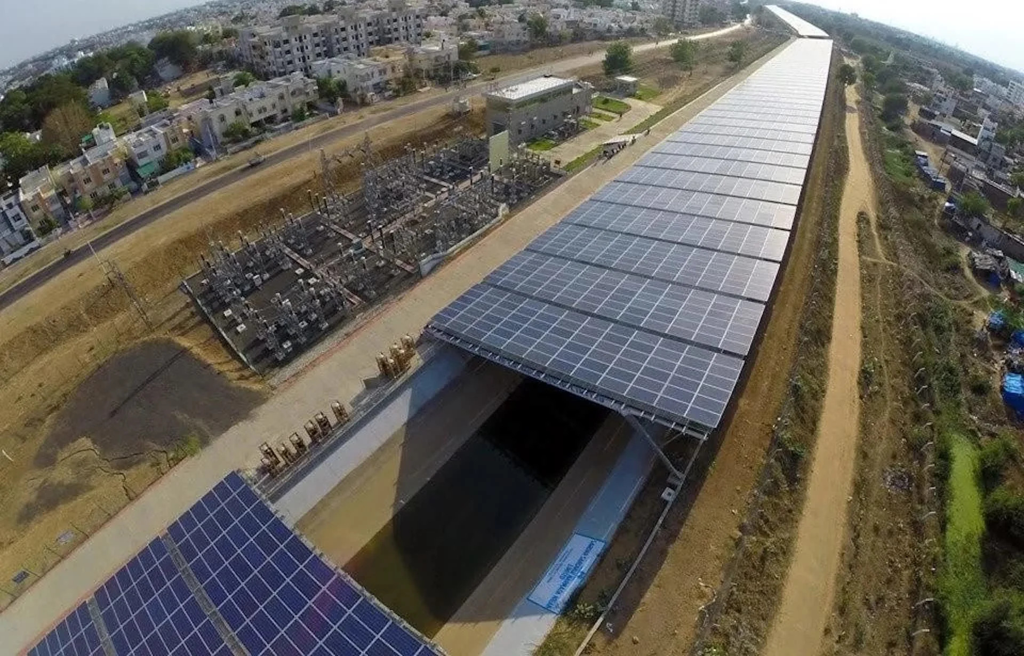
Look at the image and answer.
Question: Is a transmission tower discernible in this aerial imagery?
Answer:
Yes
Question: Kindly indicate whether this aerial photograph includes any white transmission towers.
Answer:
No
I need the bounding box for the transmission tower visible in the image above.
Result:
[112,263,157,336]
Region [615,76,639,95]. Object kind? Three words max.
shed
